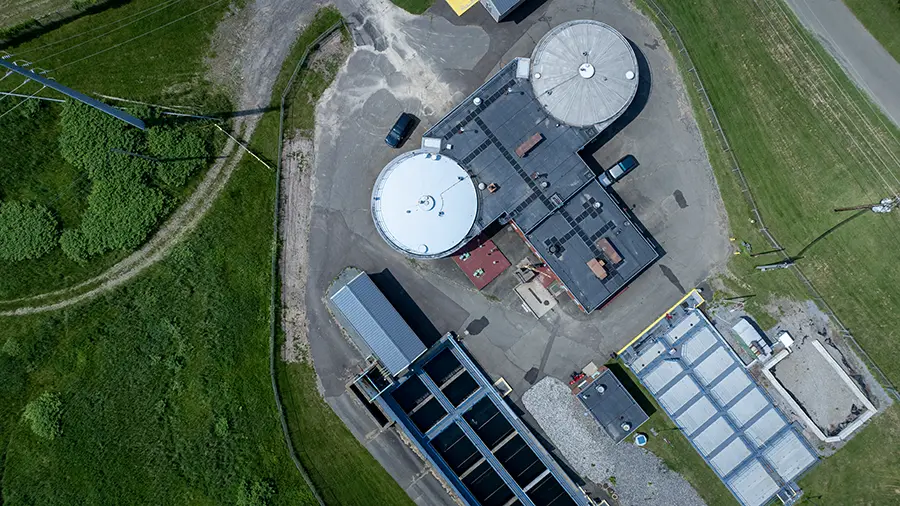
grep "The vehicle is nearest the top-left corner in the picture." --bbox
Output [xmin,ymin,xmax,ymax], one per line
[384,112,413,149]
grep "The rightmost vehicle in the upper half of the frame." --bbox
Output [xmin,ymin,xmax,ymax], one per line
[597,151,642,188]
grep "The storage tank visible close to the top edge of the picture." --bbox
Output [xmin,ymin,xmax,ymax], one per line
[530,18,638,131]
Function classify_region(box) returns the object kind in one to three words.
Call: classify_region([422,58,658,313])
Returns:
building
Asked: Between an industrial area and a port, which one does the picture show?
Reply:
industrial area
